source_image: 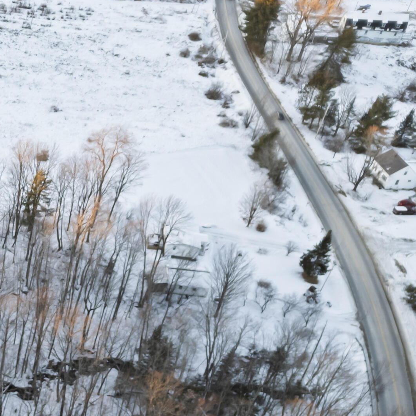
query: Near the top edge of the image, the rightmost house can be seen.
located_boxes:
[331,5,414,47]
